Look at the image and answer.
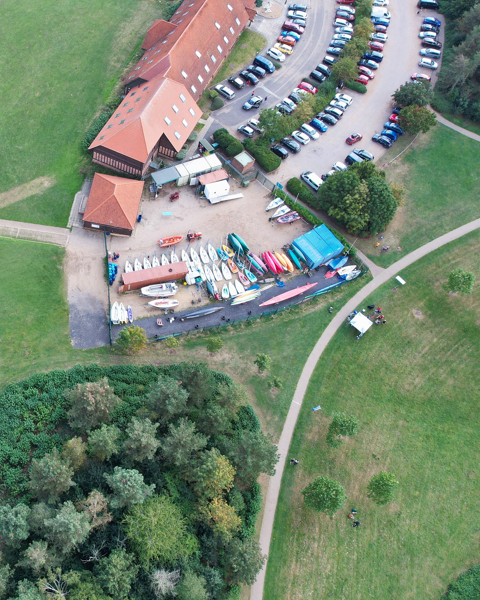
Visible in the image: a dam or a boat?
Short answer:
boat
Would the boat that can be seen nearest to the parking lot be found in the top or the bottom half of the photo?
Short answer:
top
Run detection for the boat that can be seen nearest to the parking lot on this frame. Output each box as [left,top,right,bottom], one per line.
[264,183,285,211]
